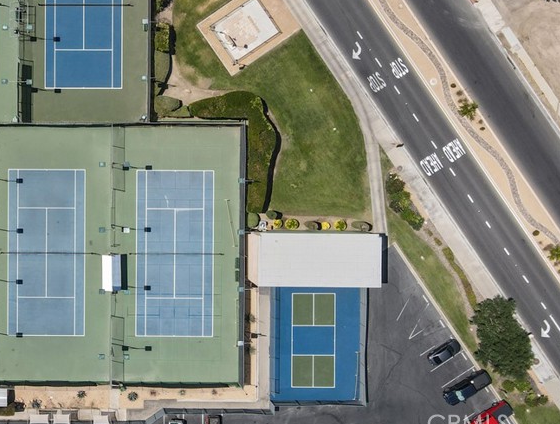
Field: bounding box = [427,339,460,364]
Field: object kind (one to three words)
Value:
car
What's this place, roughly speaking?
sports ground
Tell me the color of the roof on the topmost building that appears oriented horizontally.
white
